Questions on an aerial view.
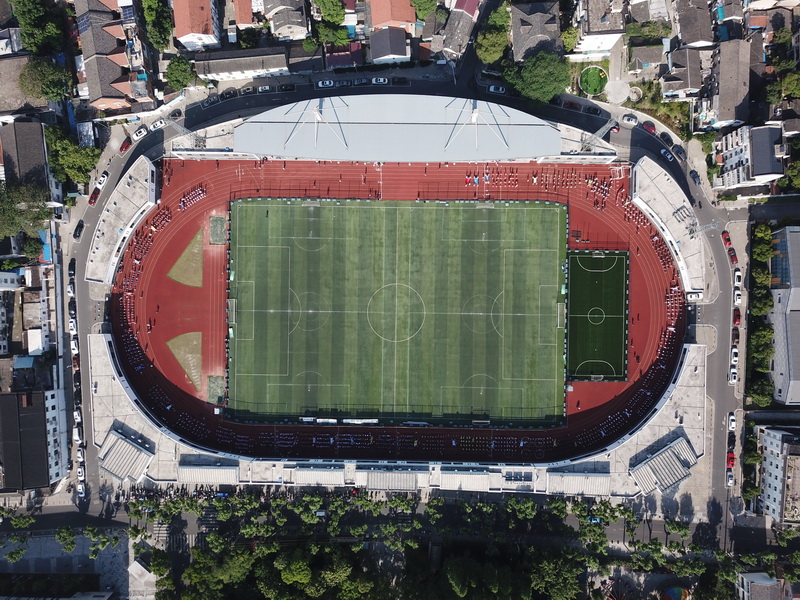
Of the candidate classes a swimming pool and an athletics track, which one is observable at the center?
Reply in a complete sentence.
What appears at the center is an athletics track.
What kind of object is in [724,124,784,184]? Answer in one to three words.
building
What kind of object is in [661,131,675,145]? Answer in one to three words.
vehicle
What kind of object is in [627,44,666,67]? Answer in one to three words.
house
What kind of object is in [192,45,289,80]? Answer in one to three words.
building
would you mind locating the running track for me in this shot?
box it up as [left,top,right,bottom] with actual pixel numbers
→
[107,156,689,463]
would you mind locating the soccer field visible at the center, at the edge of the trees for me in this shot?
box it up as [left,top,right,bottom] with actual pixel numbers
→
[227,198,567,427]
